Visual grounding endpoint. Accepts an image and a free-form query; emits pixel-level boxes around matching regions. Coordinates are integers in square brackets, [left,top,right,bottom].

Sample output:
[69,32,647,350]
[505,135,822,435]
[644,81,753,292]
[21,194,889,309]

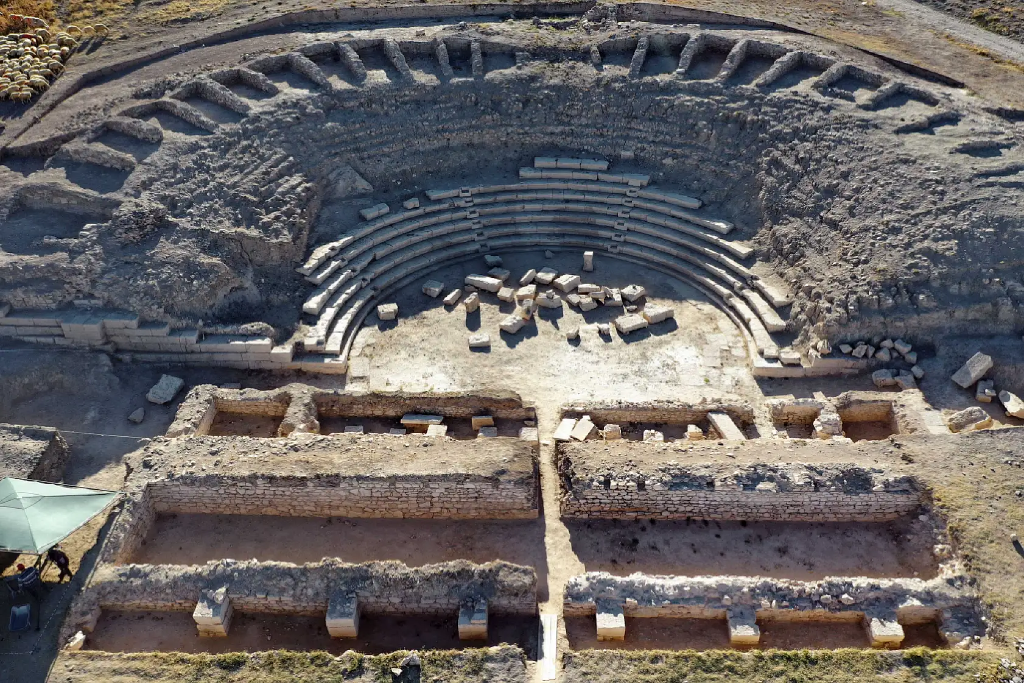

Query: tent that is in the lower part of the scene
[0,477,122,612]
